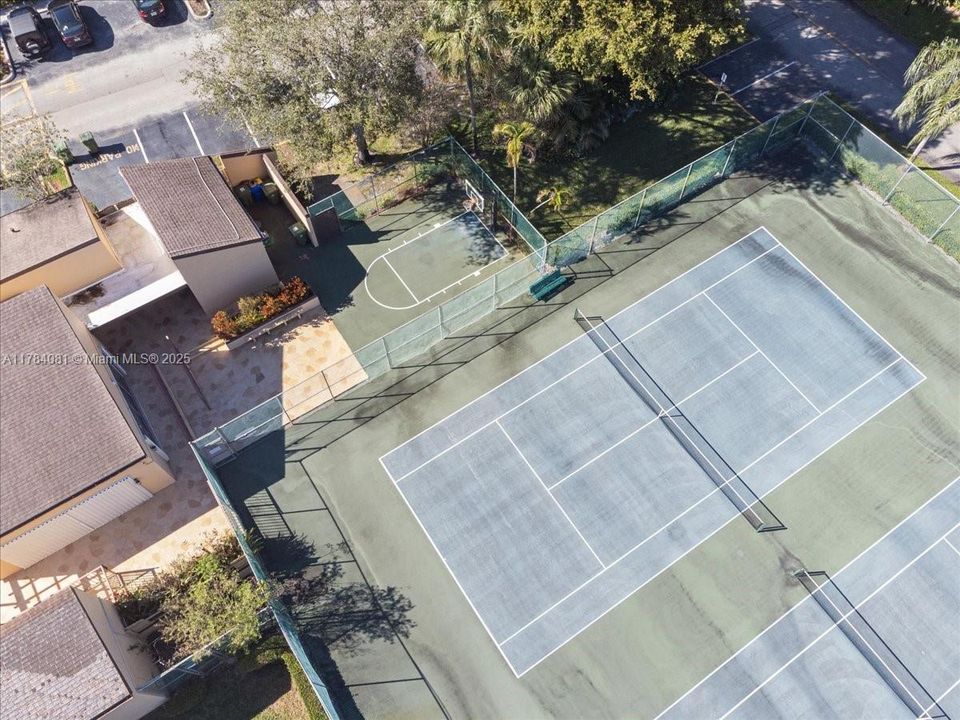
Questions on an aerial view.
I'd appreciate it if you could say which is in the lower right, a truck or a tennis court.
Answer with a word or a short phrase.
tennis court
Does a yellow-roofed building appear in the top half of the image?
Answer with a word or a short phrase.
No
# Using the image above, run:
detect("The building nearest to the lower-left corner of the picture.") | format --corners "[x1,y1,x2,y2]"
[0,590,168,720]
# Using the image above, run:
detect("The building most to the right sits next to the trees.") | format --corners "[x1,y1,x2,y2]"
[116,152,277,316]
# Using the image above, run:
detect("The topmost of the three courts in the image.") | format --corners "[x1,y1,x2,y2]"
[300,180,541,381]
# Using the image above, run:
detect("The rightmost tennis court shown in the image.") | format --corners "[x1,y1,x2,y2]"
[654,476,960,720]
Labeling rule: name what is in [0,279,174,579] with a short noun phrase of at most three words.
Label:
building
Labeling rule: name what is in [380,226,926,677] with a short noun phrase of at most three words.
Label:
tennis court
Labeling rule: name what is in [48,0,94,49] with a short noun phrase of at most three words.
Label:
car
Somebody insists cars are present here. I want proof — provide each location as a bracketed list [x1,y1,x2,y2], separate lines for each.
[48,0,94,49]
[4,3,51,54]
[134,0,169,20]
